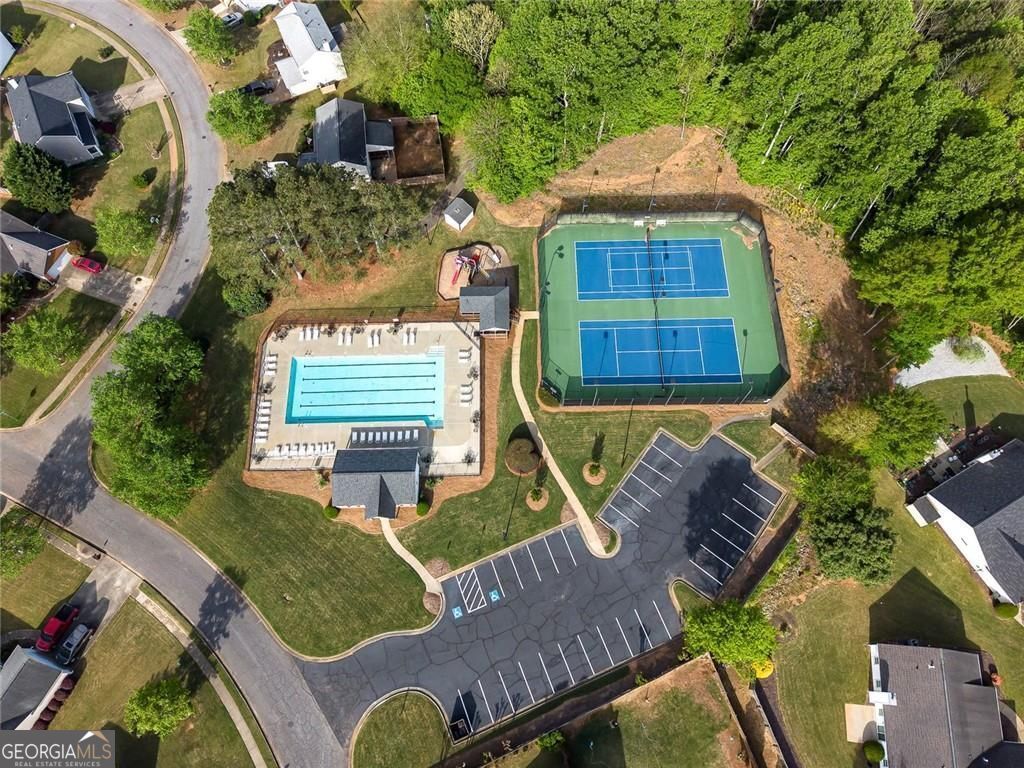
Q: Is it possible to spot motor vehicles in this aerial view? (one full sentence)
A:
Yes, the image includes a motor vehicle.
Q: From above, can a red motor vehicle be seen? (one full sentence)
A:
Yes, the image includes a red motor vehicle.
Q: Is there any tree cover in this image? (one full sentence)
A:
Yes, there is tree cover in the image.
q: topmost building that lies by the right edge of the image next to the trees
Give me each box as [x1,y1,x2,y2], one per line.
[906,440,1024,609]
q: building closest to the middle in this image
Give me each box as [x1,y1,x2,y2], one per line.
[460,287,509,337]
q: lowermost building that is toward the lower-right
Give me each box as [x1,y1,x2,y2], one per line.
[864,645,1024,768]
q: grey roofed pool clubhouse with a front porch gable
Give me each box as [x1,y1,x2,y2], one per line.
[331,447,419,519]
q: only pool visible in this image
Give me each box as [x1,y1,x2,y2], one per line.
[285,343,447,431]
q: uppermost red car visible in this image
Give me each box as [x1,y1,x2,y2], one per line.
[72,256,102,275]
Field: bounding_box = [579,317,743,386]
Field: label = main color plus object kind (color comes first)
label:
blue tennis court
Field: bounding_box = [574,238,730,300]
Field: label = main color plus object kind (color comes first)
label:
blue tennis court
